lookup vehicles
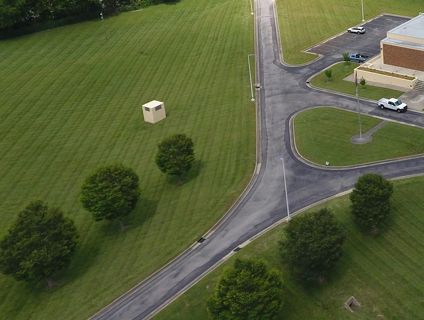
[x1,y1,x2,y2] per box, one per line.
[348,50,373,63]
[349,25,370,34]
[377,97,411,113]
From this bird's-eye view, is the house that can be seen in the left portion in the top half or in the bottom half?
top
